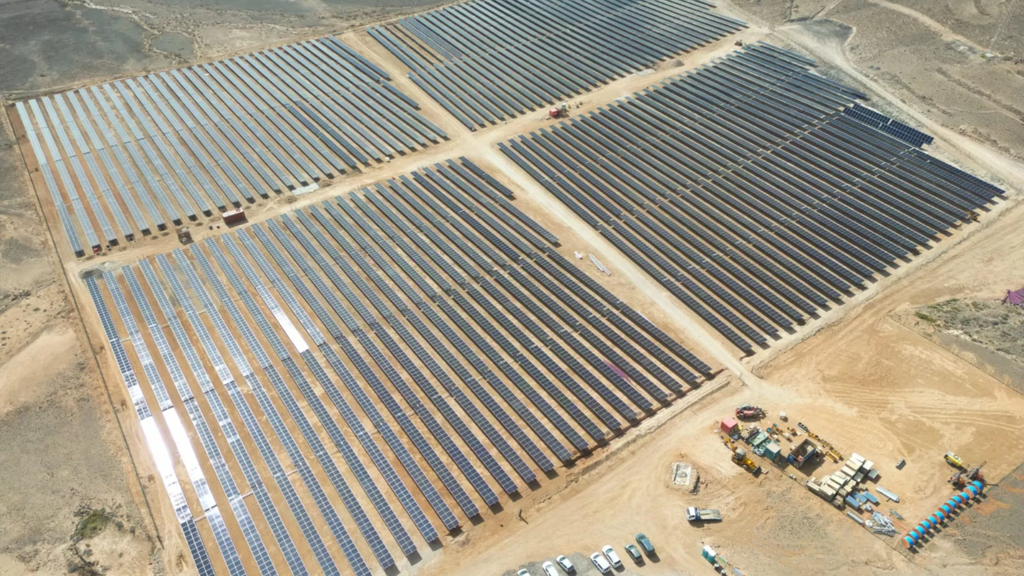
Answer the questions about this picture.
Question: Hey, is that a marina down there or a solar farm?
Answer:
solar farm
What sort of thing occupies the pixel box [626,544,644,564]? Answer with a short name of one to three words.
car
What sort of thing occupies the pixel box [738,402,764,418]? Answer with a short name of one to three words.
work vehicle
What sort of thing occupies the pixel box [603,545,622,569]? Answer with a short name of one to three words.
car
